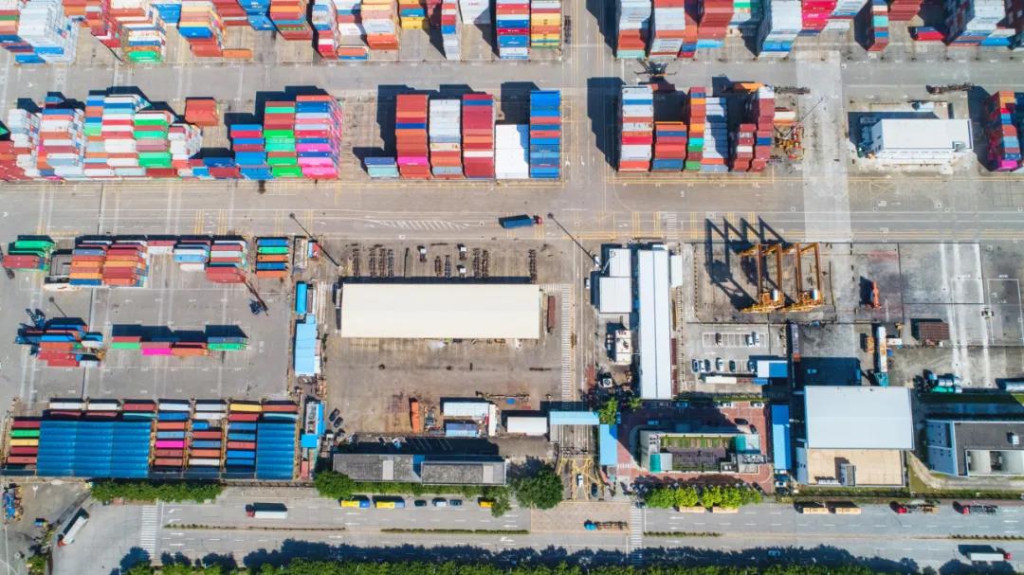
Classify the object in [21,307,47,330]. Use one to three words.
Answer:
work vehicle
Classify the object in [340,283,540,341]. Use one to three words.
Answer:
building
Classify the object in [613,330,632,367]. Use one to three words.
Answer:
building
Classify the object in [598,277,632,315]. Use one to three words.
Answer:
shed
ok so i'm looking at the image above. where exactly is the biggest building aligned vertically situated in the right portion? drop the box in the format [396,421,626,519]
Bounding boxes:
[634,249,673,400]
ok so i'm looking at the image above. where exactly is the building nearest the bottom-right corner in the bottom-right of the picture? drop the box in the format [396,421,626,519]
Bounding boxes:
[925,422,1024,476]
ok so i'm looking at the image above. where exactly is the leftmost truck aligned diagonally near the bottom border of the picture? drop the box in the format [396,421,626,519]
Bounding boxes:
[56,513,93,548]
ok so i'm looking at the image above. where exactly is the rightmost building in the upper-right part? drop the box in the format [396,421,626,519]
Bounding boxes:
[857,118,972,177]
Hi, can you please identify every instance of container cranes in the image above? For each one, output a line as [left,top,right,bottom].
[773,238,825,308]
[735,238,784,308]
